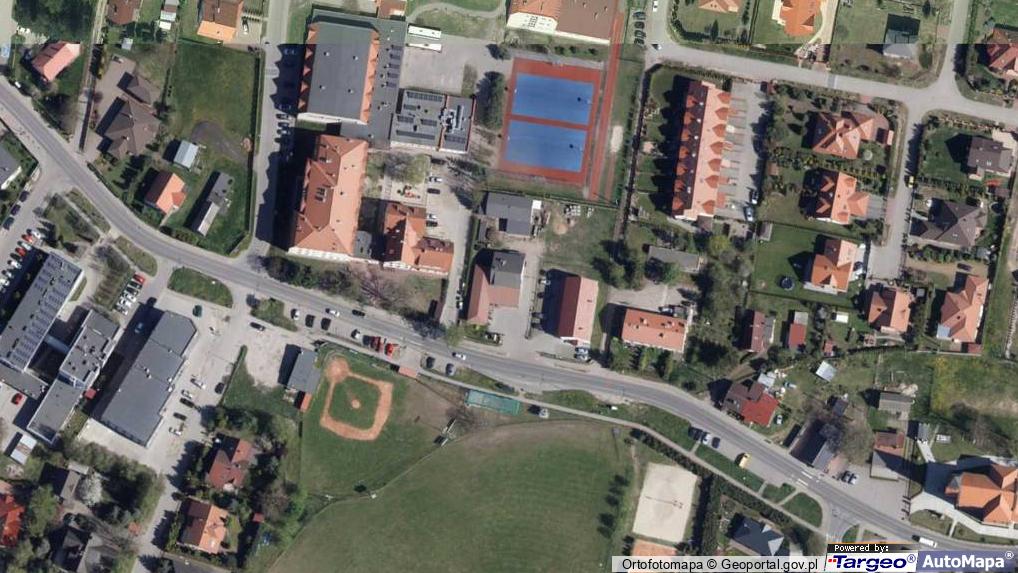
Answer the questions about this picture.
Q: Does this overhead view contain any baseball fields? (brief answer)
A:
Yes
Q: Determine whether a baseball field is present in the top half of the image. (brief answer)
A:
No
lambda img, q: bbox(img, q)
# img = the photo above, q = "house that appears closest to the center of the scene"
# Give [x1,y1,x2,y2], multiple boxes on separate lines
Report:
[466,251,525,326]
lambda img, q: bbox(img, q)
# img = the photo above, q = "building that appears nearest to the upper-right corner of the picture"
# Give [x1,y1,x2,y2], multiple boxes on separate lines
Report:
[986,28,1018,83]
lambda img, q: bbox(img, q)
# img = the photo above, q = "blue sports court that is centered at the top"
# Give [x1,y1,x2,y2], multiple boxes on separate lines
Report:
[499,57,601,188]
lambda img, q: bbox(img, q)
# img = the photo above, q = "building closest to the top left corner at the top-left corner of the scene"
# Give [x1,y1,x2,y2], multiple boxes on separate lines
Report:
[29,37,80,81]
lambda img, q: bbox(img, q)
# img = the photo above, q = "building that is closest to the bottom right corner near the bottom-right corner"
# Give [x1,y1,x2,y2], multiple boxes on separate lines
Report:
[945,456,1018,531]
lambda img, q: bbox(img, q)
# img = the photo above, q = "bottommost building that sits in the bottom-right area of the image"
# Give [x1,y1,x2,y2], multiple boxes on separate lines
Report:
[732,516,788,568]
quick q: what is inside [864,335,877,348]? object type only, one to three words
gazebo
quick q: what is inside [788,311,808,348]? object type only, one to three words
house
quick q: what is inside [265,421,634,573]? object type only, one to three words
sports field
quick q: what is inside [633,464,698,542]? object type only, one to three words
sports court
